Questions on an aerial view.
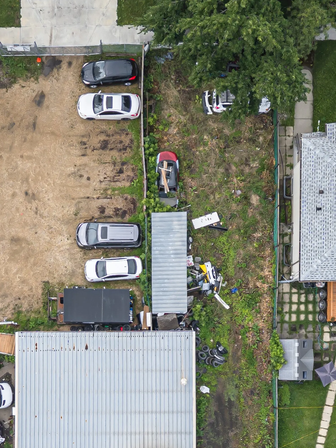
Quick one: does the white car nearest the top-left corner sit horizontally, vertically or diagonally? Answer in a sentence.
The white car nearest the top-left corner is oriented horizontally.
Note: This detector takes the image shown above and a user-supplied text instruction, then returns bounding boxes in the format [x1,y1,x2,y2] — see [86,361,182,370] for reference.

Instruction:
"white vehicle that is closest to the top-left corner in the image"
[78,90,141,122]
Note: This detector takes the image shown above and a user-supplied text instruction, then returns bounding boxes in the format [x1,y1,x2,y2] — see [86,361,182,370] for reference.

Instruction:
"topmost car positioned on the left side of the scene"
[82,56,139,88]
